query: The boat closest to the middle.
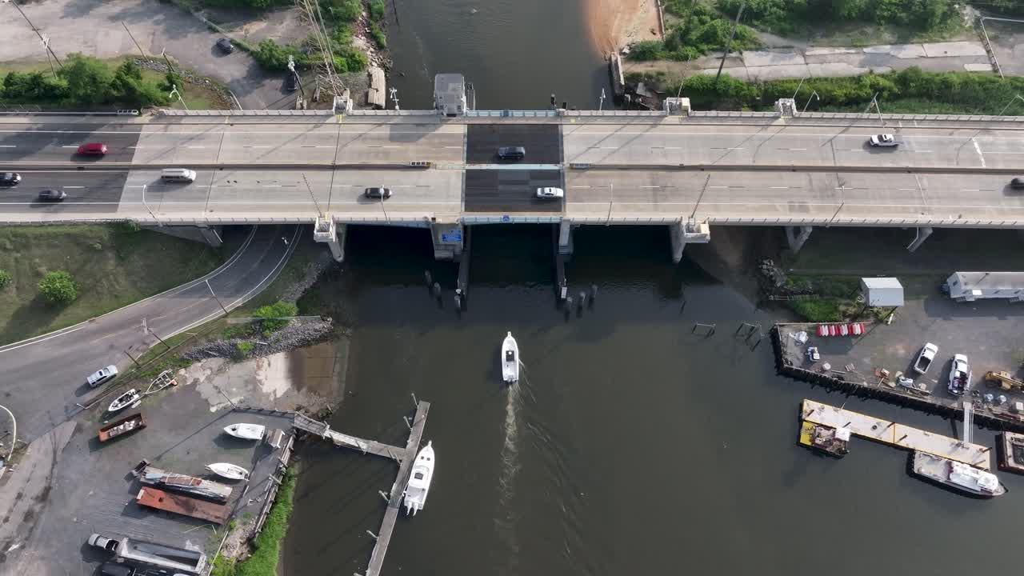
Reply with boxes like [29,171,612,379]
[502,333,519,384]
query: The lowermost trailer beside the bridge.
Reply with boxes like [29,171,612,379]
[938,271,1024,303]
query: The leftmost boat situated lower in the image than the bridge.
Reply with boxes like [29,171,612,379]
[107,389,140,413]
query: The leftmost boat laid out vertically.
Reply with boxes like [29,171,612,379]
[403,441,433,515]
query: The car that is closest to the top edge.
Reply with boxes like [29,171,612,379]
[213,40,236,52]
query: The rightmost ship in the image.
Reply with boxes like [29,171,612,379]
[997,432,1024,479]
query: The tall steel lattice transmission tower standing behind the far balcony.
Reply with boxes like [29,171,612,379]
[285,0,343,105]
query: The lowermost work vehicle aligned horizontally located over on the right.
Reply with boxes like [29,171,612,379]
[984,372,1024,393]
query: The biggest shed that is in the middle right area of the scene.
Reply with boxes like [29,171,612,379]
[848,277,905,319]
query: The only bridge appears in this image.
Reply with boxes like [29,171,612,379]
[0,68,1024,267]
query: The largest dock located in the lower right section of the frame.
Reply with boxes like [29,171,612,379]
[797,399,997,467]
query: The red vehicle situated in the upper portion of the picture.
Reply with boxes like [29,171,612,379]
[76,144,105,157]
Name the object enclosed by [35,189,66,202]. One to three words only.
vehicle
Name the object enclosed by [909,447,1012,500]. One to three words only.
boat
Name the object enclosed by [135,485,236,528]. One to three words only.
ship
